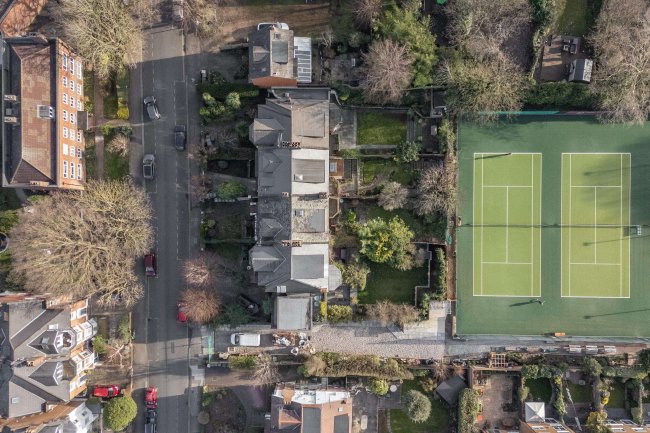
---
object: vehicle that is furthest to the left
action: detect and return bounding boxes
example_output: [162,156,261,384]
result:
[94,384,120,397]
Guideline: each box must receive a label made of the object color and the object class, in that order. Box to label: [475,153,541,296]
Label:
green tennis court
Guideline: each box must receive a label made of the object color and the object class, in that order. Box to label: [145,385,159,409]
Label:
red vehicle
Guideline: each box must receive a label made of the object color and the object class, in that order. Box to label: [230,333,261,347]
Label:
white vehicle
